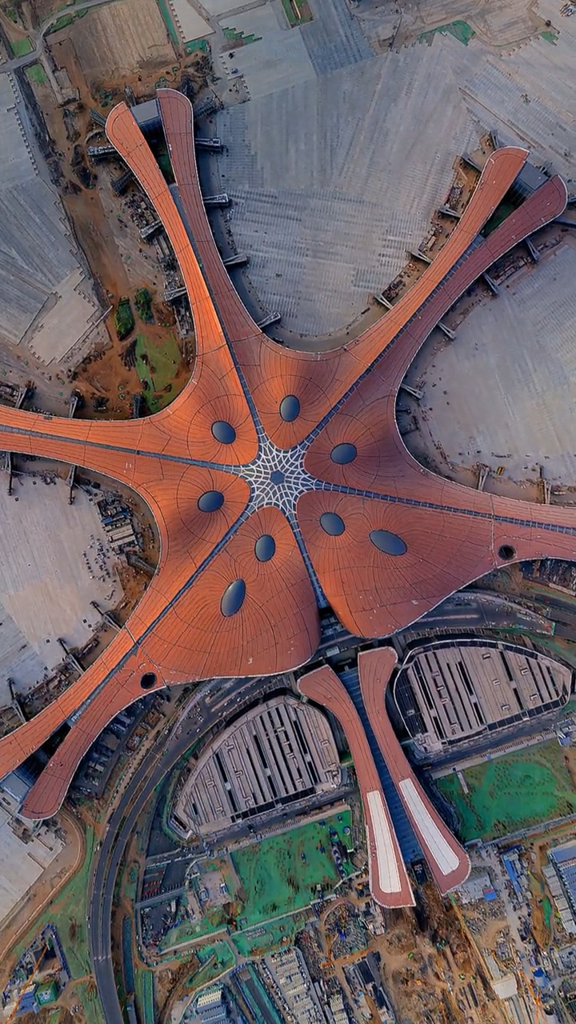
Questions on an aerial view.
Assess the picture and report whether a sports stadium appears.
No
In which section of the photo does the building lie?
center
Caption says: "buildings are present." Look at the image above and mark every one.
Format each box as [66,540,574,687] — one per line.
[0,88,576,820]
